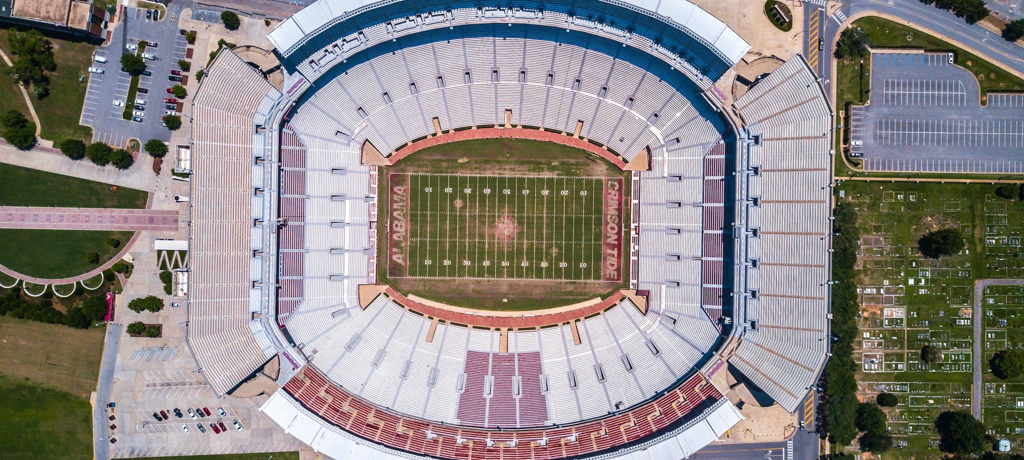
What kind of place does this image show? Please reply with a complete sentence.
This image shows a sports ground.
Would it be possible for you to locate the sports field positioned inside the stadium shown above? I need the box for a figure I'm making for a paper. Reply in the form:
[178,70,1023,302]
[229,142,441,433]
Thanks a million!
[378,125,633,331]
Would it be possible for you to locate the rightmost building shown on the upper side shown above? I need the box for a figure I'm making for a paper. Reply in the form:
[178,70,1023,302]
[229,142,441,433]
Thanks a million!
[174,144,187,175]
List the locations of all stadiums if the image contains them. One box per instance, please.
[183,0,839,460]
